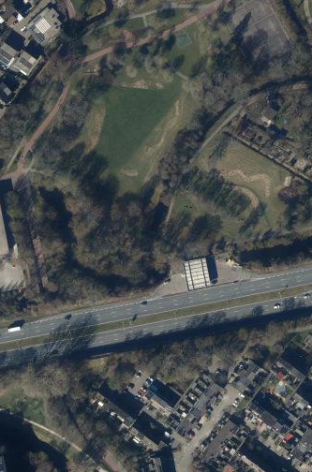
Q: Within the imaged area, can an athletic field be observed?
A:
Yes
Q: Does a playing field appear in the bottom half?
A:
No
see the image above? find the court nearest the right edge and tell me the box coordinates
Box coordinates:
[237,0,289,50]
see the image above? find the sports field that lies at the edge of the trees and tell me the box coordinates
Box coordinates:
[94,80,186,173]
